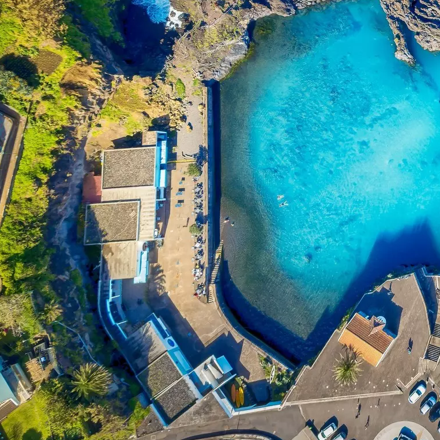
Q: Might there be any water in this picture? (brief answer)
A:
Yes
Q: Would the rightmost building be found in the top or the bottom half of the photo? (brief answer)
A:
bottom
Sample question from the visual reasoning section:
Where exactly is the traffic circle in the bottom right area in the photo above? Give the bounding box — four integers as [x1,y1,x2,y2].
[376,423,432,440]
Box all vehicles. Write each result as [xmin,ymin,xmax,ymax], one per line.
[395,432,417,440]
[417,394,439,419]
[405,383,427,409]
[334,430,349,440]
[426,402,440,427]
[319,420,338,440]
